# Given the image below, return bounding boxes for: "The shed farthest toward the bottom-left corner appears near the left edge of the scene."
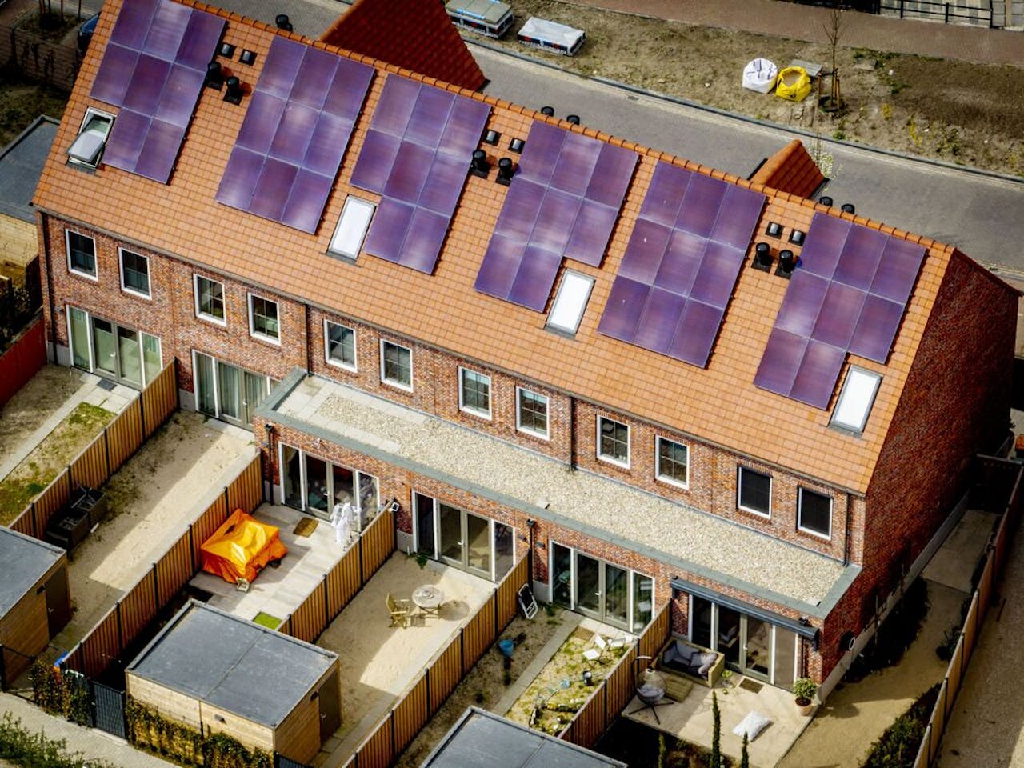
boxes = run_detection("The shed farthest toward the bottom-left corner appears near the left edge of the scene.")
[0,524,71,678]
